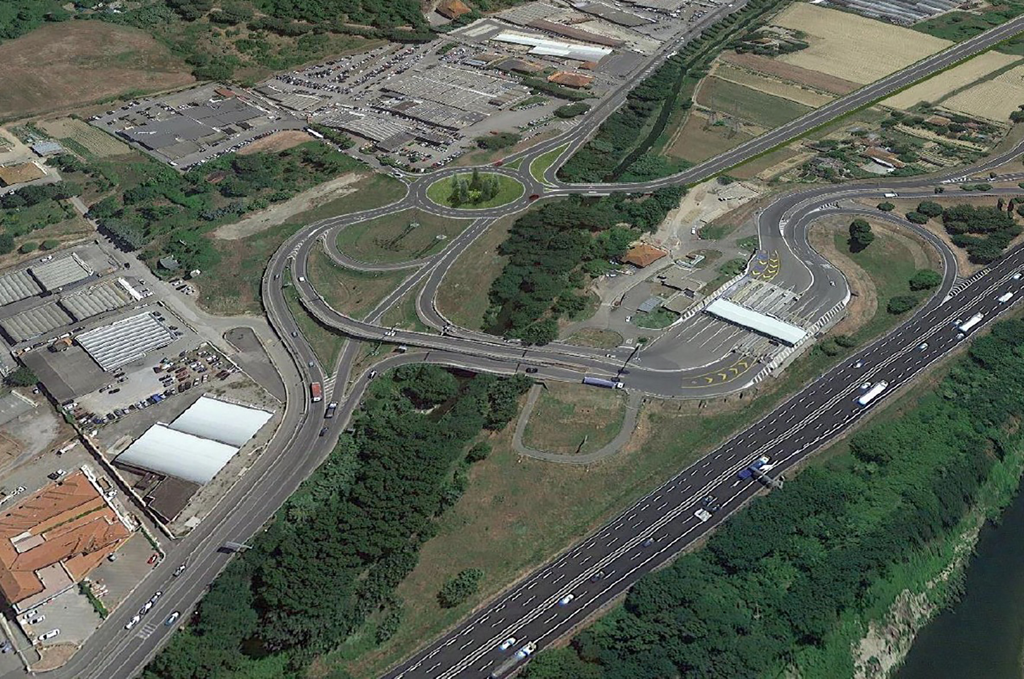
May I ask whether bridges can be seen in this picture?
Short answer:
Yes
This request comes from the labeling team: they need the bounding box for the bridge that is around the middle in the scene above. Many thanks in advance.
[289,248,635,380]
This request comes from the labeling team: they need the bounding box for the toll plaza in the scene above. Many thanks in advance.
[620,239,848,396]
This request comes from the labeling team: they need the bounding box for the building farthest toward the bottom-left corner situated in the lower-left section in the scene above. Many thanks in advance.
[0,468,137,616]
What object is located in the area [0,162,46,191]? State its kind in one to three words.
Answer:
house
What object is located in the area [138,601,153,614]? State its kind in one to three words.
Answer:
vehicle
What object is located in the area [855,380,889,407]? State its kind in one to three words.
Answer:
truck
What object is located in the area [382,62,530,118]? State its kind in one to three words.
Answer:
building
